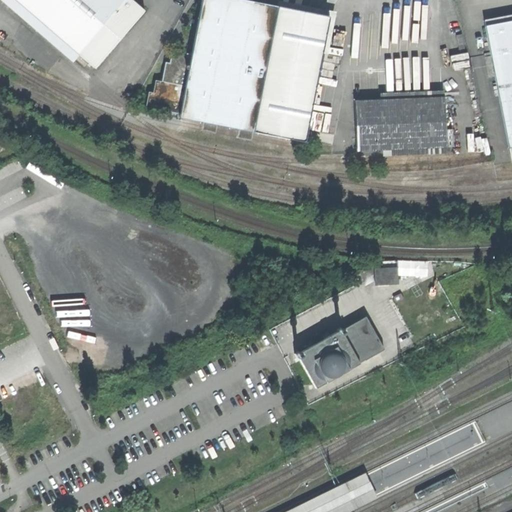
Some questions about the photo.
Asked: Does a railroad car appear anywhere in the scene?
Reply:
Yes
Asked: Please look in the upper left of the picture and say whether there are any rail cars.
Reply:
No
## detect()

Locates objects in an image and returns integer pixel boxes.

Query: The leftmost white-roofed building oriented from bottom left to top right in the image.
[77,0,146,68]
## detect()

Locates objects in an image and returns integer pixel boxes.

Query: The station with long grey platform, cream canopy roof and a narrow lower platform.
[287,402,512,512]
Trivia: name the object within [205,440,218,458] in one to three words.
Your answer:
vehicle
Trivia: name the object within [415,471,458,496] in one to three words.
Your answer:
rail car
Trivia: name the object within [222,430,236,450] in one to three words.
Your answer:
vehicle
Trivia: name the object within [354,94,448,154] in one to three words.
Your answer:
building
